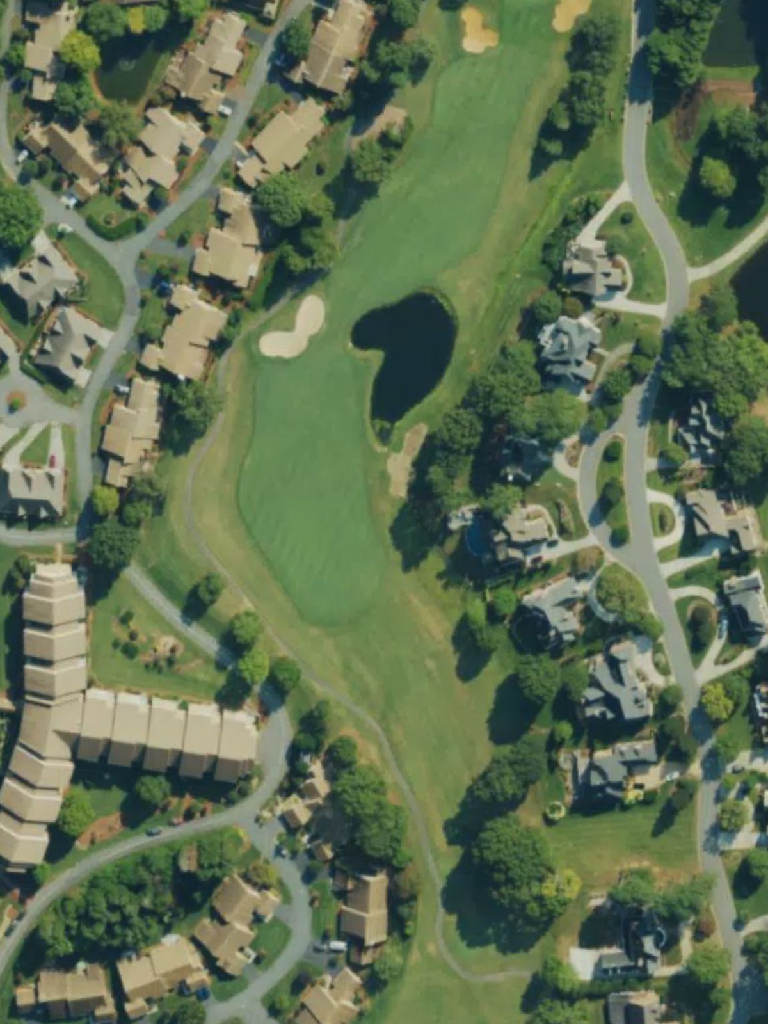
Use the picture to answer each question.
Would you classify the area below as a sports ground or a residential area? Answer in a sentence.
This image shows a residential area.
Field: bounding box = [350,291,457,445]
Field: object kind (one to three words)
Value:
pond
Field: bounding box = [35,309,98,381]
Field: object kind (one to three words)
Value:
house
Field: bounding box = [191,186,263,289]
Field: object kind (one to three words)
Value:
house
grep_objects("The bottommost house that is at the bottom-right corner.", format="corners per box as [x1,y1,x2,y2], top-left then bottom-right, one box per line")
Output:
[608,985,665,1024]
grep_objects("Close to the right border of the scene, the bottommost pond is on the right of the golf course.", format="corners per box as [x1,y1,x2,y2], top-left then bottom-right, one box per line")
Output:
[731,243,768,347]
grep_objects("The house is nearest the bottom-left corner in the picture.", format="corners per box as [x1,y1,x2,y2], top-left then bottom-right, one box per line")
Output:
[15,956,117,1021]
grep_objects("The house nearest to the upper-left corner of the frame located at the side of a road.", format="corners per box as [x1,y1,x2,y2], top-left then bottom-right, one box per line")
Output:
[22,2,79,103]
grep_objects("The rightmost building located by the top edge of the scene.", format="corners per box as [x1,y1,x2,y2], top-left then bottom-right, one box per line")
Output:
[288,0,378,95]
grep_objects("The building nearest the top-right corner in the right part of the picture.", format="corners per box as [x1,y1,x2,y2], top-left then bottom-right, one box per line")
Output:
[563,238,623,297]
